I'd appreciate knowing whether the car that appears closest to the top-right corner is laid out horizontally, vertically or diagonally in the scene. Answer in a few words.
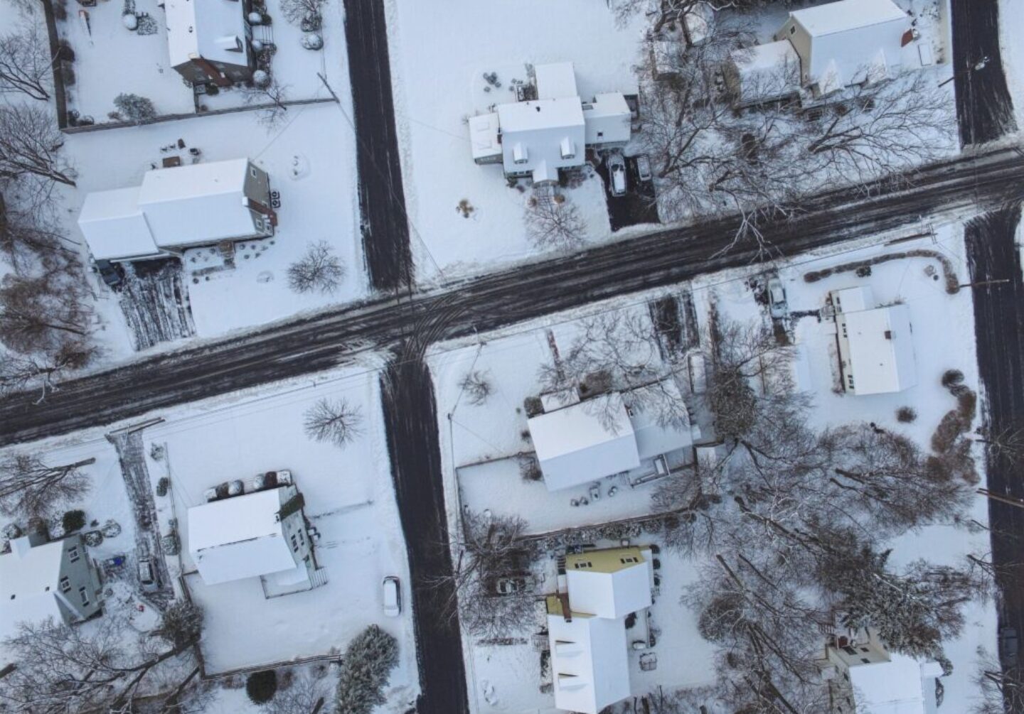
vertically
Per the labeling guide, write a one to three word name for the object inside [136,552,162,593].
car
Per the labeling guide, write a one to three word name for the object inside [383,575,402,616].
car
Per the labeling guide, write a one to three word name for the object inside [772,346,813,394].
building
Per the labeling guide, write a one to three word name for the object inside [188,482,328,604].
house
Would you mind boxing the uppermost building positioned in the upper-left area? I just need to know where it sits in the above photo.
[167,0,282,95]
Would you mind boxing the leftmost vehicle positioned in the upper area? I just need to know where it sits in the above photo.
[98,259,124,291]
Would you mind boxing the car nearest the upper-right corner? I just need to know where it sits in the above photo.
[767,276,790,318]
